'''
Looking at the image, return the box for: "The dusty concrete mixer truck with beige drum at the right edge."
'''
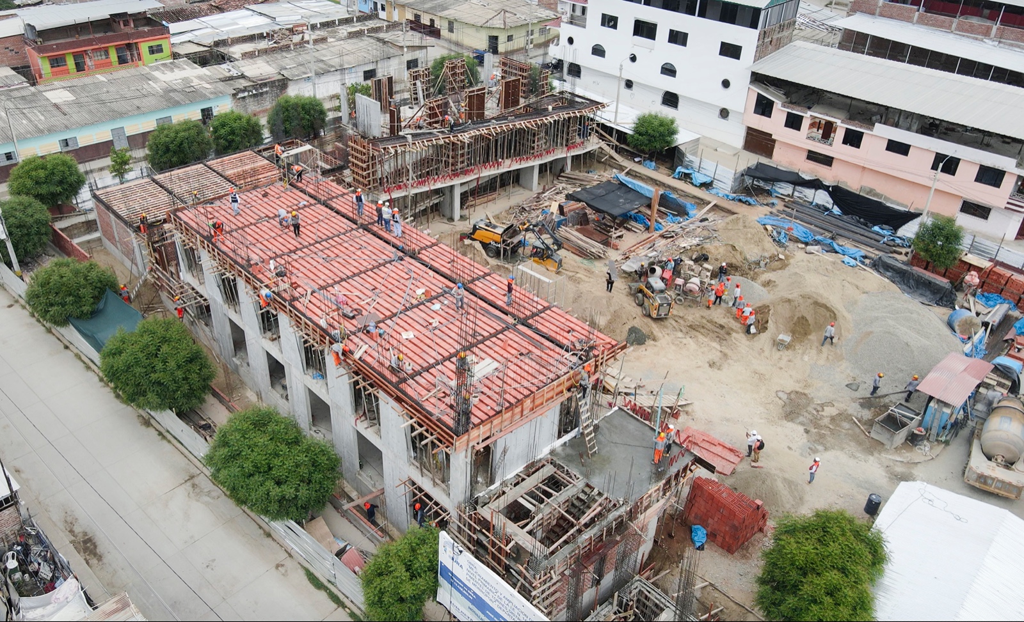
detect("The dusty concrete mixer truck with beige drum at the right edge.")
[964,388,1024,493]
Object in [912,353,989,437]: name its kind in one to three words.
shed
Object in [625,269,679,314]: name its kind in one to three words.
work vehicle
